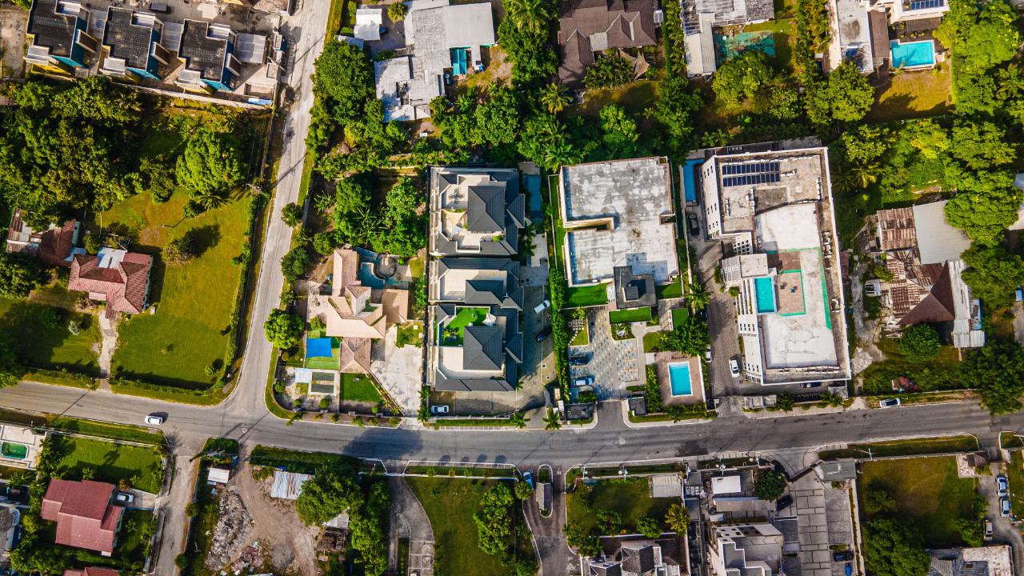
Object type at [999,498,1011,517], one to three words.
vehicle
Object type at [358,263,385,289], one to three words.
swimming pool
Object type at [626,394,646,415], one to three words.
building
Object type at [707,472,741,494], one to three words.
house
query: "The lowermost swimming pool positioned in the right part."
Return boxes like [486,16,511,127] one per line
[668,361,693,397]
